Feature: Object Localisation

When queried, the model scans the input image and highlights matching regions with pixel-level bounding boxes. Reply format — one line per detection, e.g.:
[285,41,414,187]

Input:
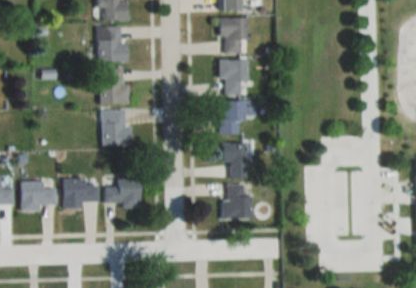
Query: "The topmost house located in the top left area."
[93,0,130,22]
